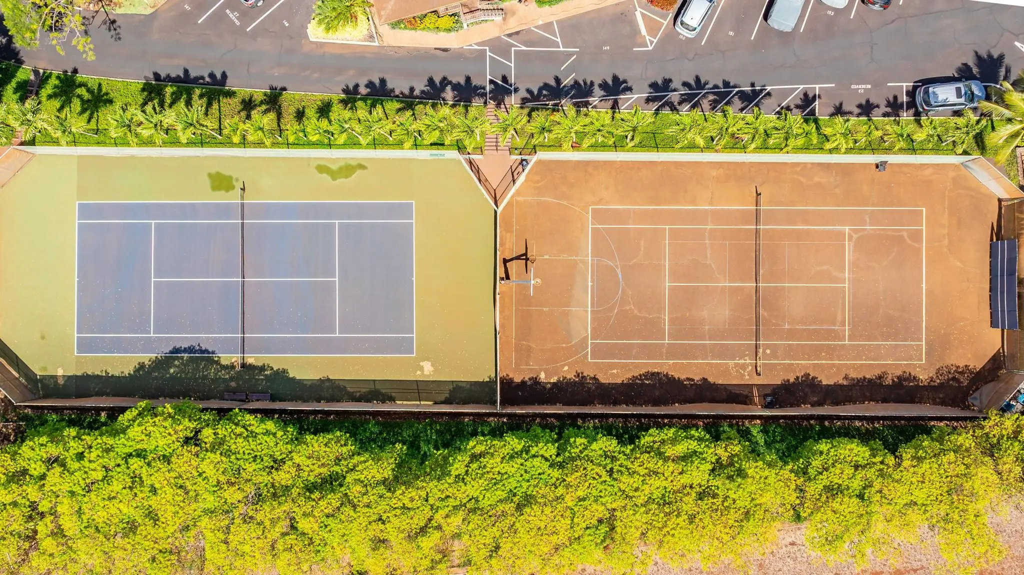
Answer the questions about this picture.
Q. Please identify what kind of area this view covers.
sports ground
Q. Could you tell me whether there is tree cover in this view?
Yes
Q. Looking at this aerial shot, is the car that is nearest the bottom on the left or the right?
right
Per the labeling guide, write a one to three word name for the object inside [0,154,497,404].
tennis court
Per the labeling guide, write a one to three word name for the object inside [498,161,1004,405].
tennis court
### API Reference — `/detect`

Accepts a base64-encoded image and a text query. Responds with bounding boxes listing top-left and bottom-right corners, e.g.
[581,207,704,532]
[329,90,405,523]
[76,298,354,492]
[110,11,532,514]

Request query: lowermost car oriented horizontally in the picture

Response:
[915,79,988,114]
